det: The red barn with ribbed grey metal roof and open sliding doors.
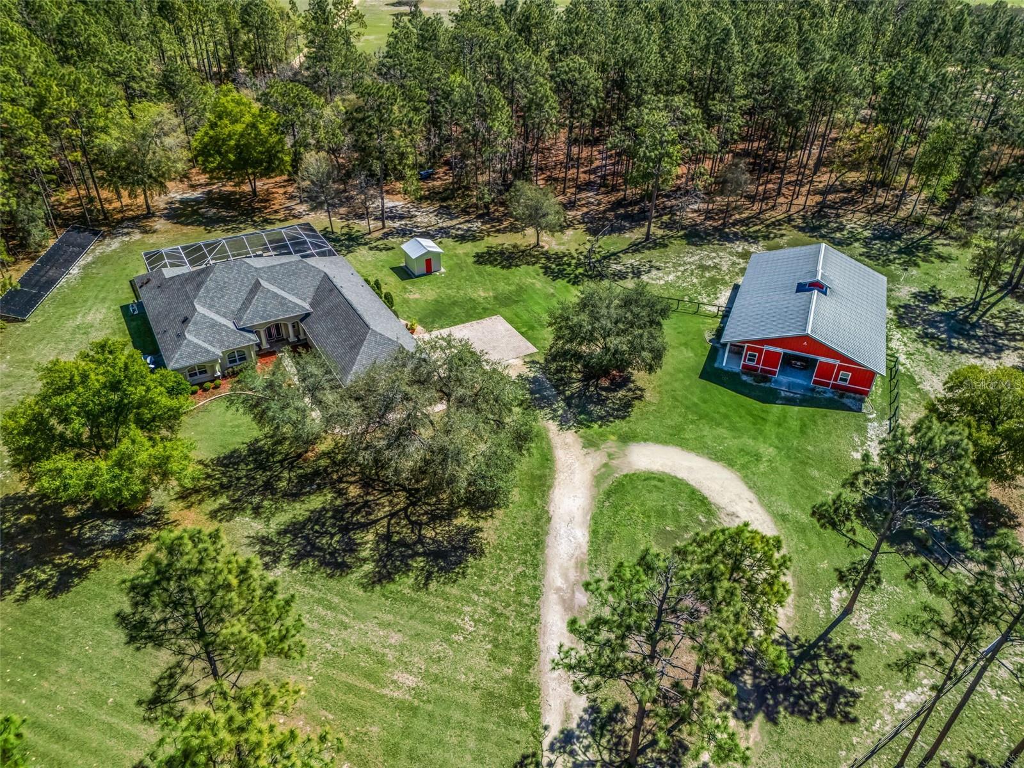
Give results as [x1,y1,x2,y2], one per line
[720,244,887,396]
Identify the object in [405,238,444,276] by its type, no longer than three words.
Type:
shed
